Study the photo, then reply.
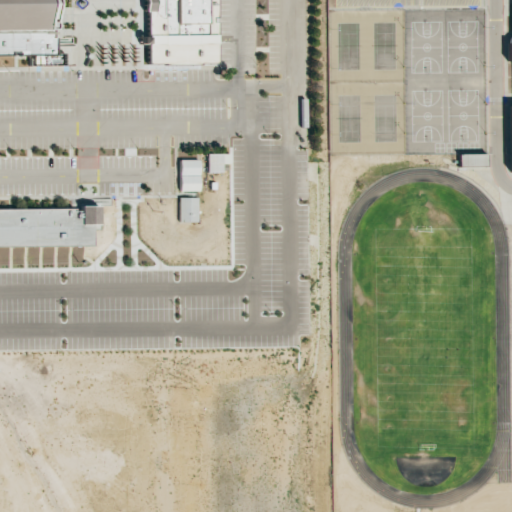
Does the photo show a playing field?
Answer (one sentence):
Yes, a playing field is visible in the scene.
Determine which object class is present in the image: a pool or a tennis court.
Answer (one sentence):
Visible in the photo is a tennis court.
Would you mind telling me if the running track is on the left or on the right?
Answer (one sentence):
It is on the right.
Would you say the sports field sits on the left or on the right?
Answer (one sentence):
The sports field is on the right side of the image.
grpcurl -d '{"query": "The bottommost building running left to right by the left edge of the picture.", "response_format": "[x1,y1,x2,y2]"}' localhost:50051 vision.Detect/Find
[0,206,103,246]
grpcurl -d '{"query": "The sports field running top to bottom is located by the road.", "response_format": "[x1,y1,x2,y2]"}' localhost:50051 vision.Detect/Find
[352,181,497,494]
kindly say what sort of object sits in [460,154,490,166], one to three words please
shed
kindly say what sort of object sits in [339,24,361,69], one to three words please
tennis court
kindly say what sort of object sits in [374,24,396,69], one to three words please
tennis court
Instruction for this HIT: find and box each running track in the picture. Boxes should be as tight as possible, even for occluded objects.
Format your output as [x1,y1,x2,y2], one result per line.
[338,168,512,508]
